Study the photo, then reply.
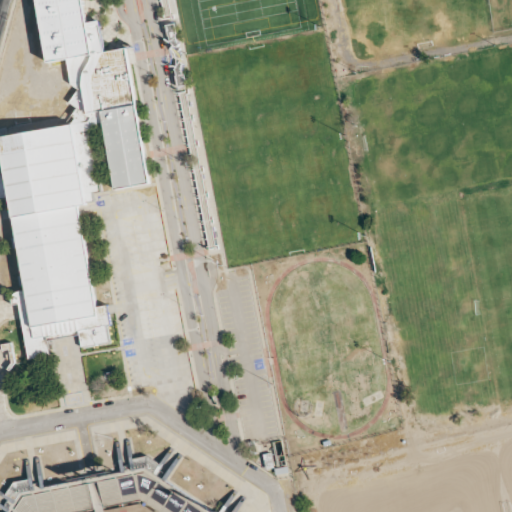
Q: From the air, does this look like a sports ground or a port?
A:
sports ground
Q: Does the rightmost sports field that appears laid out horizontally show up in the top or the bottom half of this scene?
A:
top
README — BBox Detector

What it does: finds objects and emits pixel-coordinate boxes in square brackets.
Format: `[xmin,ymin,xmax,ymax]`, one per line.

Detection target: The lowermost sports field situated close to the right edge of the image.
[347,46,512,414]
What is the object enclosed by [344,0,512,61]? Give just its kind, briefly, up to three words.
sports field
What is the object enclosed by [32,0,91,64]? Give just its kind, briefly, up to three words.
building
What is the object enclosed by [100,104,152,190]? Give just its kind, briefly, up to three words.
building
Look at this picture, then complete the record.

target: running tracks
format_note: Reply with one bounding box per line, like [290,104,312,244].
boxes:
[265,258,390,439]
